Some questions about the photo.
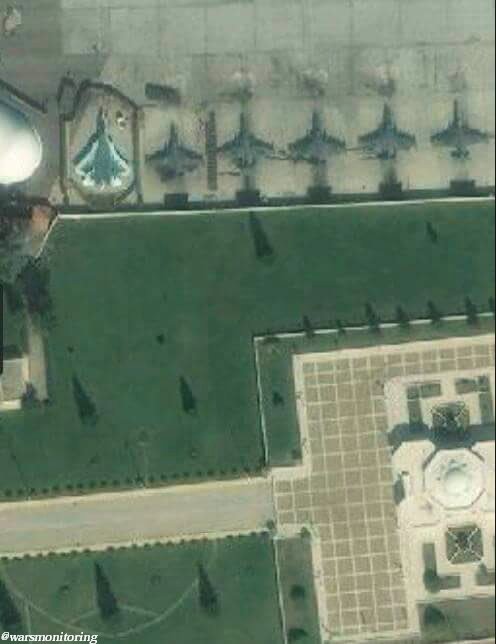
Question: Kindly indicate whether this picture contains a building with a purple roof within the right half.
No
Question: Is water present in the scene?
No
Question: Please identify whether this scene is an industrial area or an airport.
airport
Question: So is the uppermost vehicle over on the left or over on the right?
left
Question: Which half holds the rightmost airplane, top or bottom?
top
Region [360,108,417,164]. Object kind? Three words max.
airplane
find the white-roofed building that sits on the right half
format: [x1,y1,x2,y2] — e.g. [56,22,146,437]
[392,440,496,528]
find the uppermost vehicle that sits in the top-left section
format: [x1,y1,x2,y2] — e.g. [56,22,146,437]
[1,8,22,33]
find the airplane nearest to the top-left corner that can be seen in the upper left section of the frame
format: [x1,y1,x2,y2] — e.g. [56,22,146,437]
[76,112,129,187]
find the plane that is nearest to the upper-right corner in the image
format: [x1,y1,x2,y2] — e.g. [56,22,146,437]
[431,107,490,159]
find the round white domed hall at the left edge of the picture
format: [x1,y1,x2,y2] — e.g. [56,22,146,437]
[0,92,42,187]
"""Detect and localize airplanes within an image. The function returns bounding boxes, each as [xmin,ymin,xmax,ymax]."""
[431,107,490,159]
[76,112,129,187]
[290,114,348,166]
[146,123,204,182]
[218,113,275,169]
[360,108,417,164]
